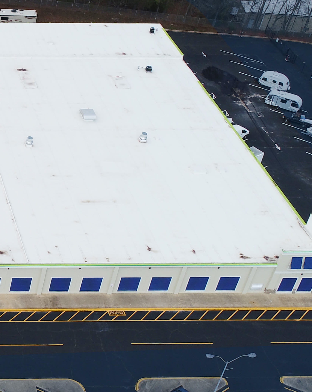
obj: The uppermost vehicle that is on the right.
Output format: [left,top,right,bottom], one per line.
[251,68,294,89]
